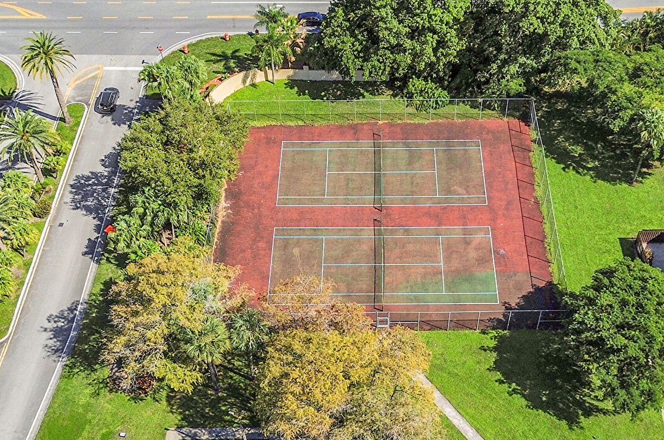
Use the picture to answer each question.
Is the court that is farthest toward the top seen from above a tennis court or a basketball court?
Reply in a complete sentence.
Specifically, the court that is farthest toward the top is a tennis court.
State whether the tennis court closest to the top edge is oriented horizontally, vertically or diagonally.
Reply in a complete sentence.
What the image shows is the tennis court closest to the top edge lying horizontally.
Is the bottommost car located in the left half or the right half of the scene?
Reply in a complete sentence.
The bottommost car sits on the left side.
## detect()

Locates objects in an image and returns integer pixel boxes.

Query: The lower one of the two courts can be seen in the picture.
[269,227,498,304]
